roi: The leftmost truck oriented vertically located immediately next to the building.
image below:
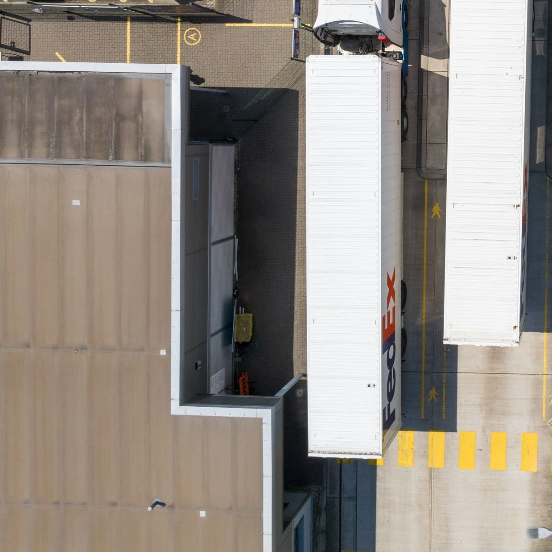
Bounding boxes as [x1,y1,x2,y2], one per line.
[305,0,406,457]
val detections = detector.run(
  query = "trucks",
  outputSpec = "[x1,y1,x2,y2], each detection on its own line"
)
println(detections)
[305,0,406,457]
[444,0,529,345]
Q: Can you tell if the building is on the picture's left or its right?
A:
left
